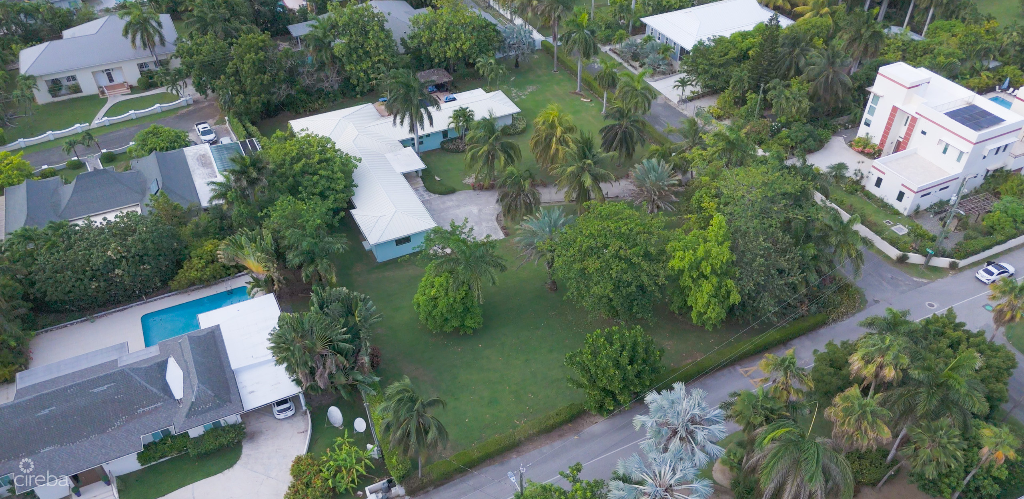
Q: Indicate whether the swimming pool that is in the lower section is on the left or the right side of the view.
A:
left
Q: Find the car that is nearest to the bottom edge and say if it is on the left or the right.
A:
left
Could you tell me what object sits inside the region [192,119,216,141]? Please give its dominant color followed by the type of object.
white truck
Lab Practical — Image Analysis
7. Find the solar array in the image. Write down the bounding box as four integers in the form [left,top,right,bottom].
[939,103,1012,132]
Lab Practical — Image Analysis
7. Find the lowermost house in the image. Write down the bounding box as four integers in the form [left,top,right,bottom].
[0,293,307,499]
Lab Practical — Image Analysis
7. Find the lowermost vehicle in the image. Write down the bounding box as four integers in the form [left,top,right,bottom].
[273,398,297,427]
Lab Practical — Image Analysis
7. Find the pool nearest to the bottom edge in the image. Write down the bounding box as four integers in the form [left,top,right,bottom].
[0,275,262,396]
